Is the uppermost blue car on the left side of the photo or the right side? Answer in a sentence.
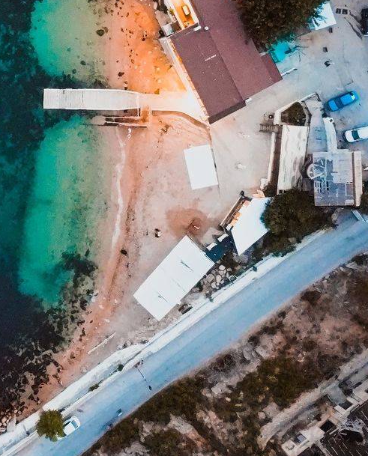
The uppermost blue car is on the right side of the image.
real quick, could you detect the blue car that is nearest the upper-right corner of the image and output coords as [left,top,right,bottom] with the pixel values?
[325,90,361,113]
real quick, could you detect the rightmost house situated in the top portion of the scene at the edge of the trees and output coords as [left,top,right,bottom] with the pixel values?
[302,151,354,206]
